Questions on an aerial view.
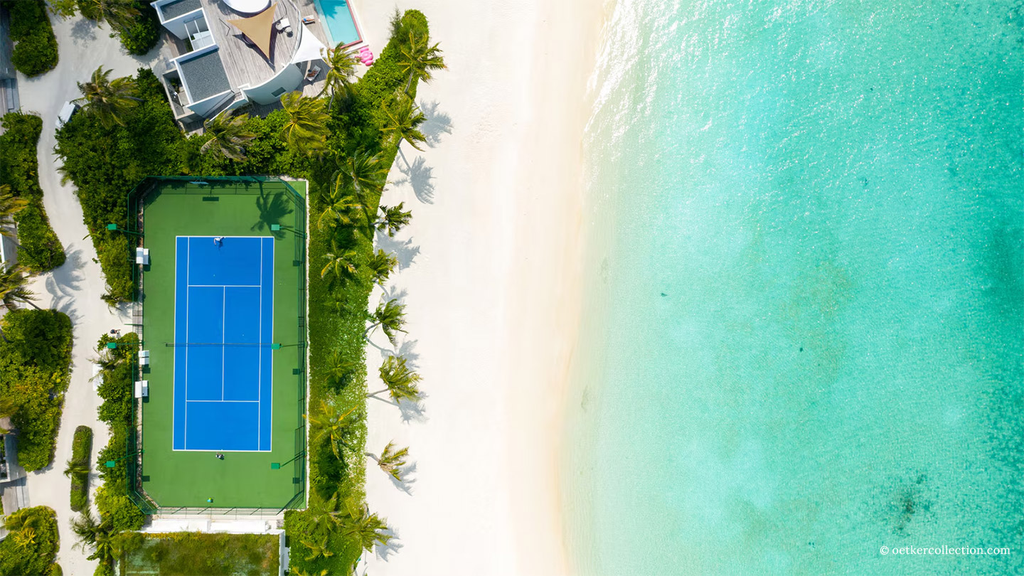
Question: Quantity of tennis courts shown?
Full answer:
I count just 1 tennis court.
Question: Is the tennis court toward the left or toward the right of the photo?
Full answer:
You can find the tennis court on the left side of the picture.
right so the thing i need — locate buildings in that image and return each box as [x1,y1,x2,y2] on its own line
[118,514,291,576]
[148,0,310,127]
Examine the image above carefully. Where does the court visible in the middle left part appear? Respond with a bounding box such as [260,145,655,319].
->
[143,181,306,507]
